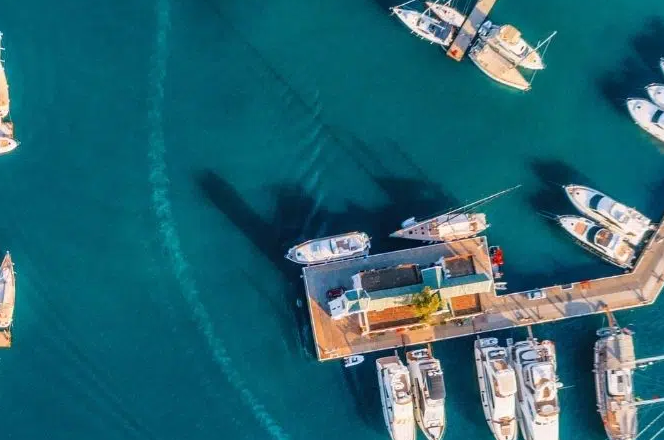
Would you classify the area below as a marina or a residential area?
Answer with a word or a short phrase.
marina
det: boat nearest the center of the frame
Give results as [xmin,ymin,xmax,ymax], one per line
[283,232,369,263]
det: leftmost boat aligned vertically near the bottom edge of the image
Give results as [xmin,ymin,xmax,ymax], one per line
[368,346,416,440]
